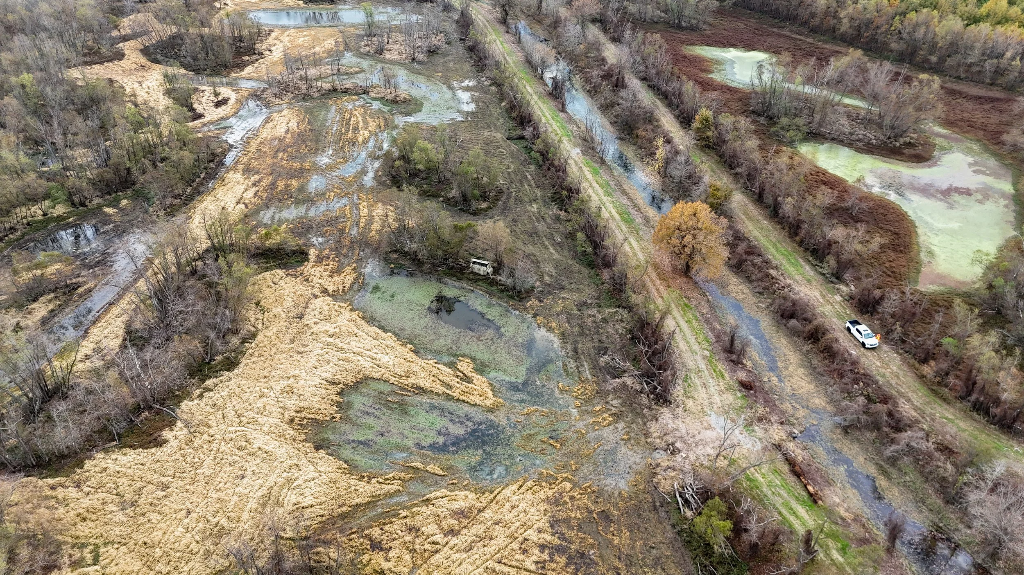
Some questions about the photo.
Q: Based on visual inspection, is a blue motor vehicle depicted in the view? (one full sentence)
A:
No, I can see no blue motor vehicle in this picture.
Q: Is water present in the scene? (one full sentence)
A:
Yes, some water is visible.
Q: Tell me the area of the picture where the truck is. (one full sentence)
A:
You can find the truck in the right area of the picture.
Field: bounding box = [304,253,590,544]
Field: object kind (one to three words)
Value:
pond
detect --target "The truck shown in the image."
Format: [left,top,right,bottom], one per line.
[848,314,885,347]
